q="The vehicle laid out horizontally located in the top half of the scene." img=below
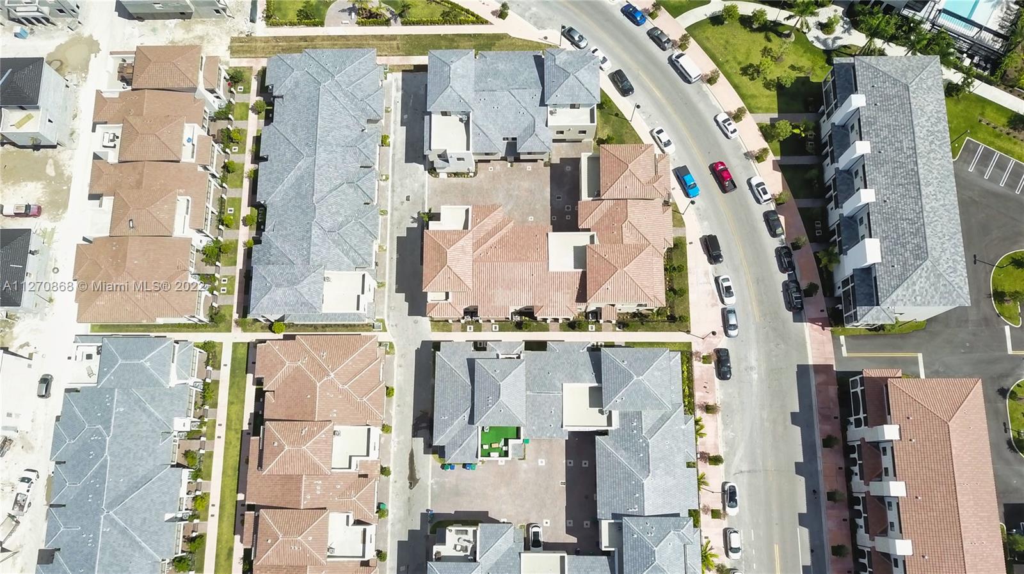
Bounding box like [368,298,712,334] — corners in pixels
[3,201,44,218]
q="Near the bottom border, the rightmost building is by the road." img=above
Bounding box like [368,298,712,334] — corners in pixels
[839,368,1007,574]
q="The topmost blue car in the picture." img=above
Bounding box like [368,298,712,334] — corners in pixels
[619,1,646,26]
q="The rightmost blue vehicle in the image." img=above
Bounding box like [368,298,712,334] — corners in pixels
[673,164,700,200]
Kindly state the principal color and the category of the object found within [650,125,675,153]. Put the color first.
white car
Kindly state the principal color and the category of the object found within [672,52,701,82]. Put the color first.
white van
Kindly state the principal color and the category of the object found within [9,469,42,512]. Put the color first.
white truck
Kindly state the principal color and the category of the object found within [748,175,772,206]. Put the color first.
white car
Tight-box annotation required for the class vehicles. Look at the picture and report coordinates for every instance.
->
[702,232,721,263]
[722,480,740,516]
[710,159,739,195]
[527,520,544,545]
[645,25,672,51]
[36,372,57,402]
[609,68,634,96]
[561,23,588,49]
[715,347,733,380]
[774,244,794,275]
[650,125,675,153]
[619,1,646,26]
[723,526,742,562]
[721,306,739,338]
[589,44,612,72]
[3,201,44,218]
[713,111,739,139]
[716,275,735,305]
[9,469,42,512]
[748,175,772,206]
[673,164,700,200]
[761,207,784,239]
[672,52,701,82]
[0,421,18,455]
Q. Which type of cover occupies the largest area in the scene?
buildings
